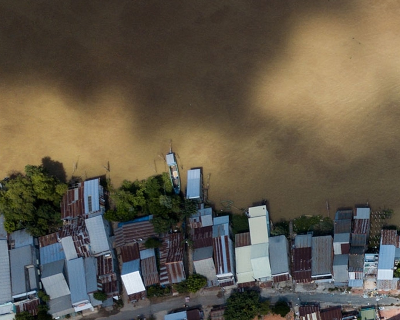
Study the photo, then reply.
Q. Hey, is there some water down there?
Yes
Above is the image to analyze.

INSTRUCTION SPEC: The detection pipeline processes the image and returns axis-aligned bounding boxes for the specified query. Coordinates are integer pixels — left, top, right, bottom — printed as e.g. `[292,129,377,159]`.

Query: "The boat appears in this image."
[166,141,182,192]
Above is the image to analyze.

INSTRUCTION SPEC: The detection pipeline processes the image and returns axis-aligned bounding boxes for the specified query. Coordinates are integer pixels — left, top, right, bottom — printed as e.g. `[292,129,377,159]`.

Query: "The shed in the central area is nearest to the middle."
[186,169,206,199]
